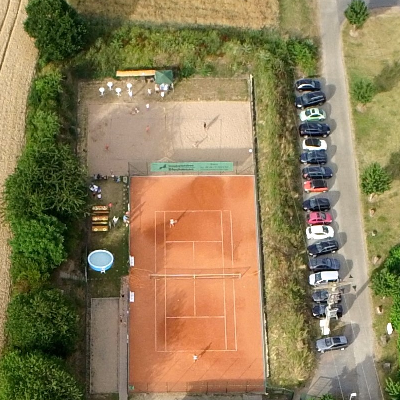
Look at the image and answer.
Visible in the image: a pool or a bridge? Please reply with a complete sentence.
Visible in the photo is a pool.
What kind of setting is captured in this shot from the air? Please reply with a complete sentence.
This looks like a sports ground.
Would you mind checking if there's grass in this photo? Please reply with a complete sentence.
Yes, some grass is visible.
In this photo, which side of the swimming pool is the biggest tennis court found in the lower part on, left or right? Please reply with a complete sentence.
It is on the right side of the swimming pool that the biggest tennis court found in the lower part is positioned.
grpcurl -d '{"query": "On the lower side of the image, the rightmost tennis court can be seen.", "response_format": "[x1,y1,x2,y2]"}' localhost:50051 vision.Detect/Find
[128,176,266,394]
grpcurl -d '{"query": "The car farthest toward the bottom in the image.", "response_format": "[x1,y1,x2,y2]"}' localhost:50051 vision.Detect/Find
[315,337,349,353]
